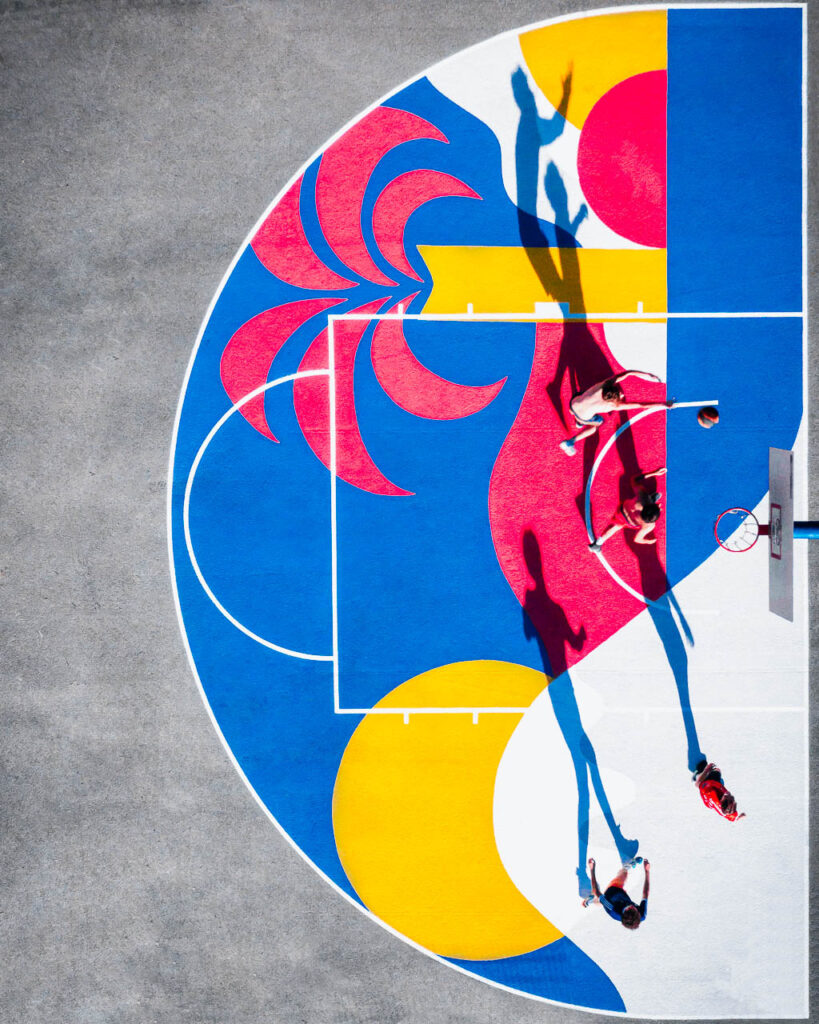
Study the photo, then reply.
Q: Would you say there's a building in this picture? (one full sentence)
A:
No, the picture doesn't show any building.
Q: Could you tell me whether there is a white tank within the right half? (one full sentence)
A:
No, the scene shows no white tank within the right half.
